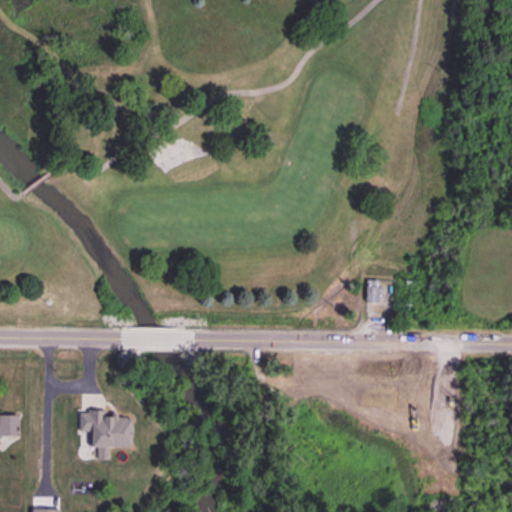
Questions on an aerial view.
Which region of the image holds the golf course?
top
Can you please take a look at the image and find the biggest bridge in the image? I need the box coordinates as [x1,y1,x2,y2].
[122,330,194,350]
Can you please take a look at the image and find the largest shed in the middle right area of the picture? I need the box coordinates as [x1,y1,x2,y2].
[368,280,382,302]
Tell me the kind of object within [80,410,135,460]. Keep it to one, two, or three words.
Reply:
house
